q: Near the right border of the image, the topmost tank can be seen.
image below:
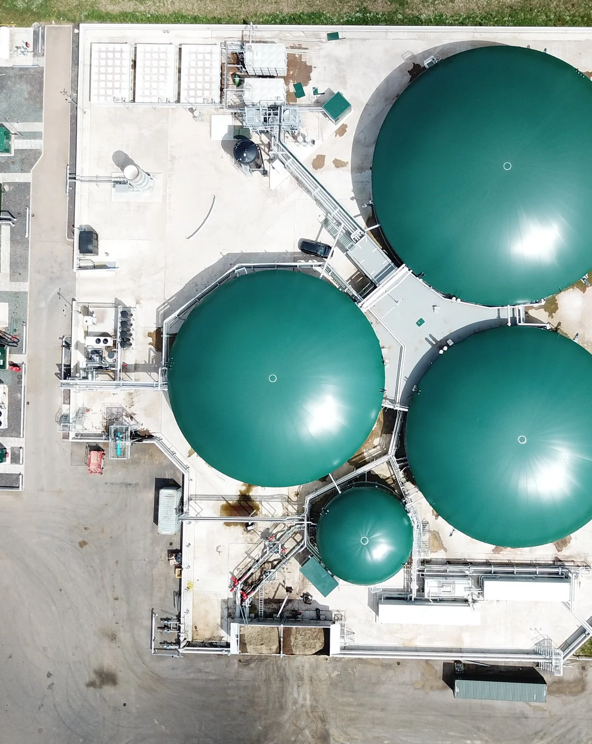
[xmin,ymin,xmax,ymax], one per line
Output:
[369,46,592,308]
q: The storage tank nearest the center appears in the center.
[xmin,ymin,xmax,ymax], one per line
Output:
[167,269,390,488]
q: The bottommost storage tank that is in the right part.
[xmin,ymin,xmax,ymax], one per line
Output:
[314,482,413,596]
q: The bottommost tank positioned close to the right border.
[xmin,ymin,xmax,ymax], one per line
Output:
[404,320,592,548]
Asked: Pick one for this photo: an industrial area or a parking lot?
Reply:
industrial area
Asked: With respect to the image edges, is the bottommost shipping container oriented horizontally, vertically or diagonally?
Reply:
horizontally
